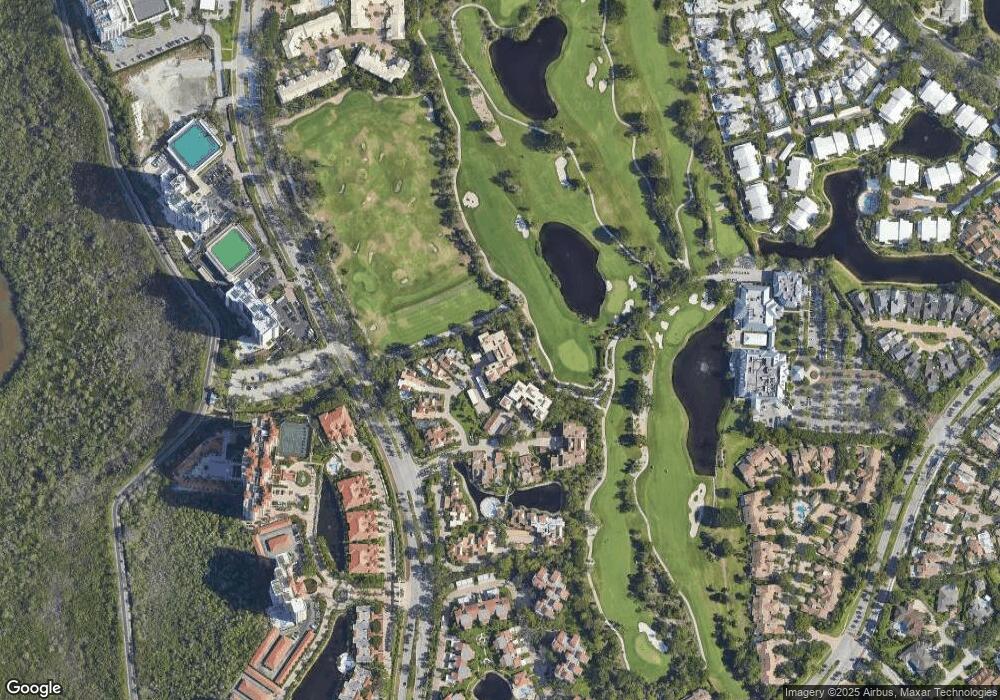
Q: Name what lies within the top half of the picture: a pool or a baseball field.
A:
pool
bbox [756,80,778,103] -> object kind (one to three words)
house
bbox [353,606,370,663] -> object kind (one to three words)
building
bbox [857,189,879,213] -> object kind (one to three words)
swimming pool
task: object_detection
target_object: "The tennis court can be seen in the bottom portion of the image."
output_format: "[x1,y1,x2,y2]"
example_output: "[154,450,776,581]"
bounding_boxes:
[278,422,309,458]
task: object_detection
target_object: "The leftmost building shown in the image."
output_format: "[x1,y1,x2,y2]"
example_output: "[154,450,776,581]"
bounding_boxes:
[84,0,130,44]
